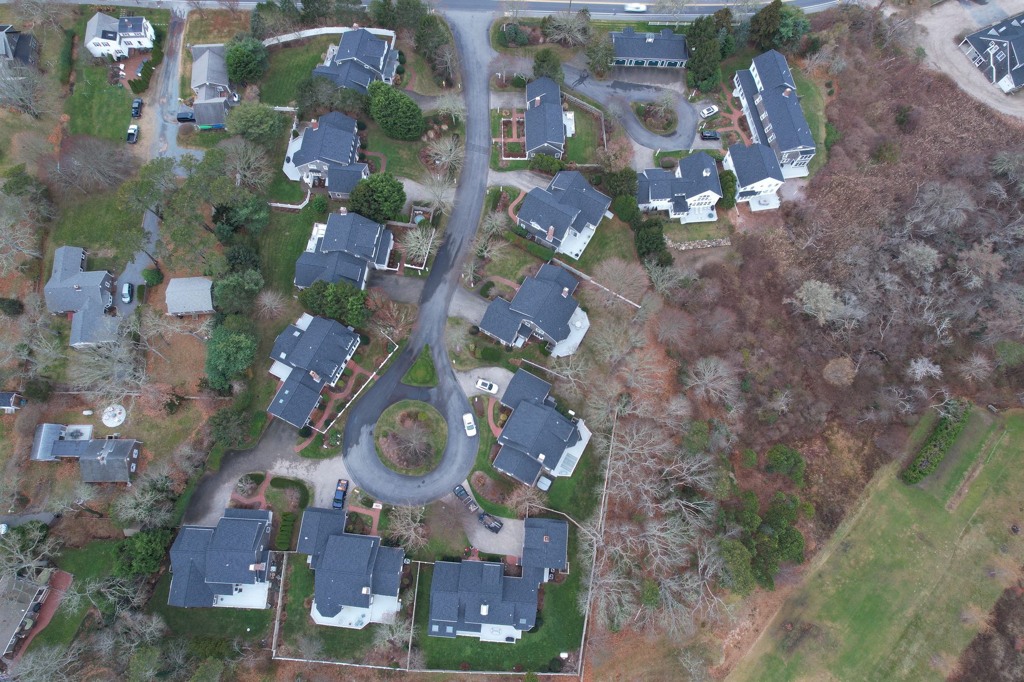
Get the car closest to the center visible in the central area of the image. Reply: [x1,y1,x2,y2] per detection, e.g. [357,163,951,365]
[474,379,499,394]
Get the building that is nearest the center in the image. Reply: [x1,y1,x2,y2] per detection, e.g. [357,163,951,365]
[479,263,591,359]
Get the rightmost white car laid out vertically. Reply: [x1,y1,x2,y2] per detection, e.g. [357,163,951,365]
[464,412,476,438]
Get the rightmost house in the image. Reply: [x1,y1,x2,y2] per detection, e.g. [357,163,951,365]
[959,12,1024,101]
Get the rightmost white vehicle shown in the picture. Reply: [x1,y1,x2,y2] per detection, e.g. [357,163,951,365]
[699,105,720,119]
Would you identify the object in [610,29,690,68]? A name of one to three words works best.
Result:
building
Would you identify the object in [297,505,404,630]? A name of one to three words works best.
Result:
house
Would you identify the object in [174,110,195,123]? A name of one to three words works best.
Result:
vehicle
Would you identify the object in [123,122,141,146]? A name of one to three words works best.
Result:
vehicle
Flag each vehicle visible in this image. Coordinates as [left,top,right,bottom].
[474,379,499,394]
[464,412,476,438]
[331,477,349,508]
[129,97,145,120]
[624,2,645,13]
[174,110,195,123]
[699,129,722,141]
[123,122,141,146]
[119,281,134,305]
[699,105,720,119]
[452,481,480,516]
